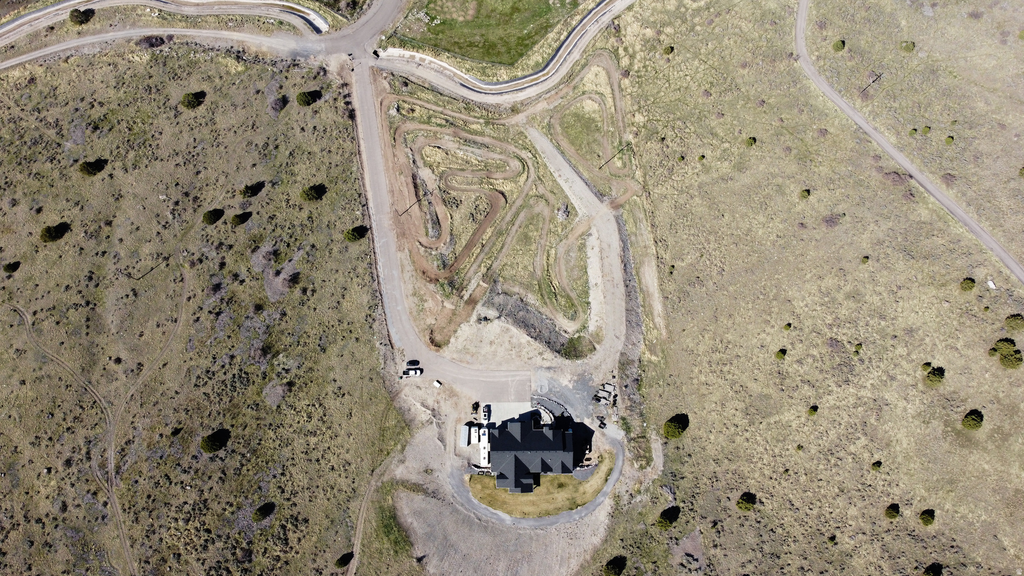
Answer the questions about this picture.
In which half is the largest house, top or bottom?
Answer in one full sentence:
The largest house is in the bottom half of the image.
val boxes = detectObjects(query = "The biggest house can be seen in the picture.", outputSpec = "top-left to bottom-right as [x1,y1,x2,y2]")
[490,421,574,493]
